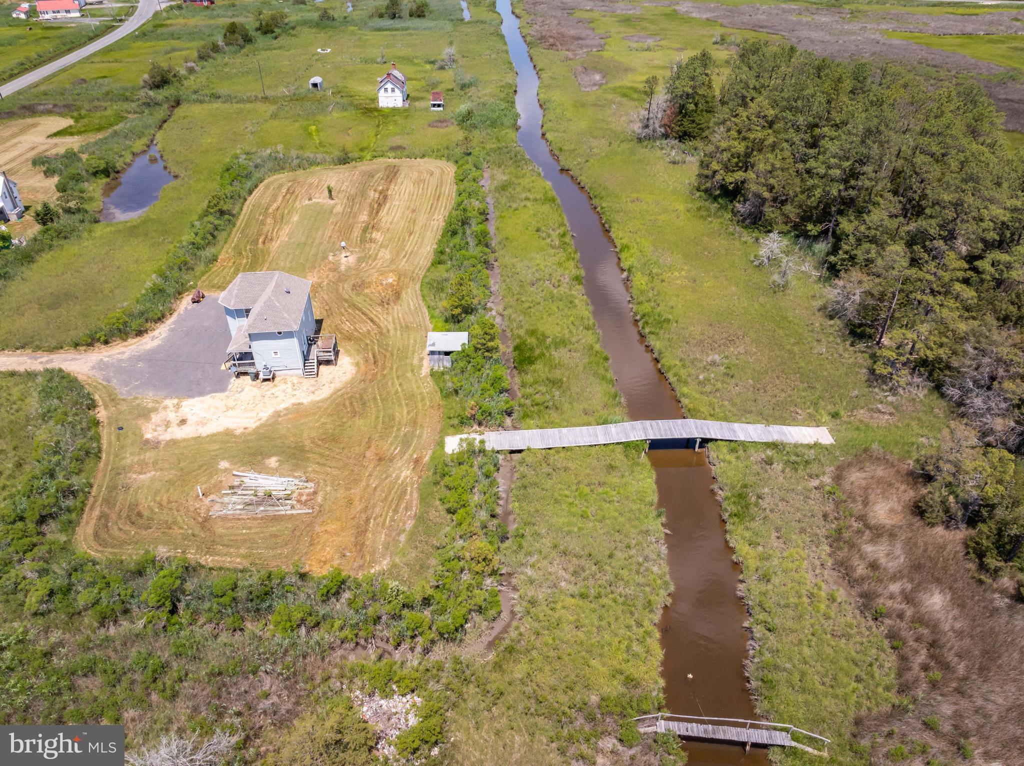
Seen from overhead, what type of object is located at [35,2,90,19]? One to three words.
house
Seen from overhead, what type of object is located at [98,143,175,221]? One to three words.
pond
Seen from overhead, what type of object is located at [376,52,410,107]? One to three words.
house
